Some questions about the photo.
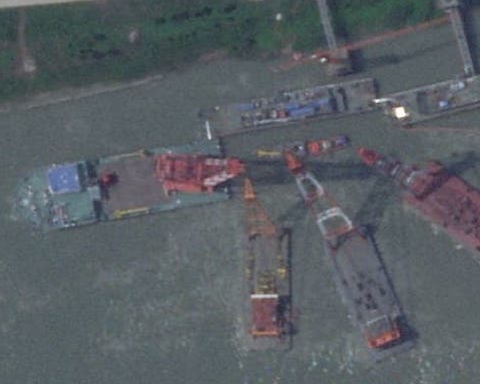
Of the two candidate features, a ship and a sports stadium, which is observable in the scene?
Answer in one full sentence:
I can see a ship in this picture.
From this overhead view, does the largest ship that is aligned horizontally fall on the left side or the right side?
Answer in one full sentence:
You can find the largest ship that is aligned horizontally on the left side of the picture.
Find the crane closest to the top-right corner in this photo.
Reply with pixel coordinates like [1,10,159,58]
[276,20,450,70]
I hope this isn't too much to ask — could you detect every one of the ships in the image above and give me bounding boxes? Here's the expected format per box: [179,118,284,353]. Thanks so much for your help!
[241,175,304,344]
[285,150,407,350]
[361,146,480,252]
[16,129,276,228]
